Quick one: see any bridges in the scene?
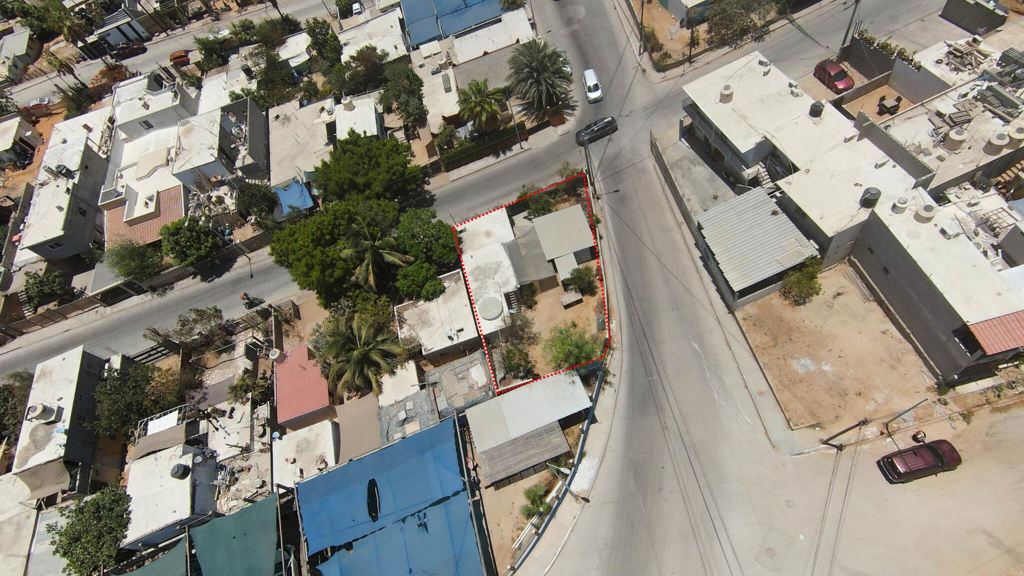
No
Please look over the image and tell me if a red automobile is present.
Yes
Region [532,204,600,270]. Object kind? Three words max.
shed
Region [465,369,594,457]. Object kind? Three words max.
shed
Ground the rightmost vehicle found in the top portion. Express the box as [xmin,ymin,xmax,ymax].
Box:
[808,58,858,96]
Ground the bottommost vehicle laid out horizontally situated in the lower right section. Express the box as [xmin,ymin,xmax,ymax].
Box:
[876,440,963,483]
